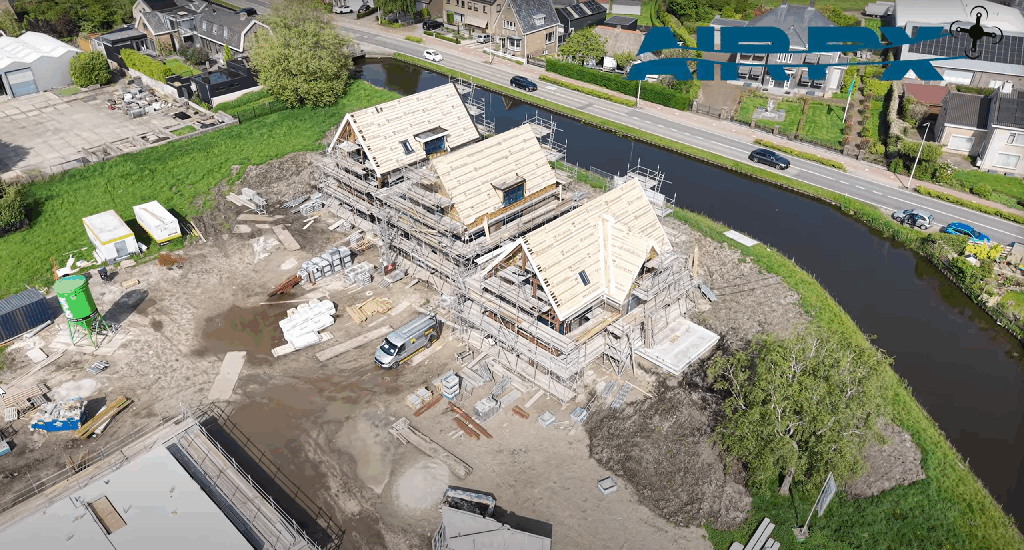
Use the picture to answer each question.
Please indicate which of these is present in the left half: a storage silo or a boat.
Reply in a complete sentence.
Looking in the left half, you will find a storage silo.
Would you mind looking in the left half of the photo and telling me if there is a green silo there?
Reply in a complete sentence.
Yes, a green silo is visible in the left half of the photo.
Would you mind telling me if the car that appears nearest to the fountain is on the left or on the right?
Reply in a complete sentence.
You can find the car that appears nearest to the fountain on the right side of the picture.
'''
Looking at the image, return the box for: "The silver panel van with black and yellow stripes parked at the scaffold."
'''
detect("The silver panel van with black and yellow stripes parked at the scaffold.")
[367,310,440,374]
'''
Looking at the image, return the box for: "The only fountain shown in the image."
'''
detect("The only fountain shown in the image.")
[755,101,786,120]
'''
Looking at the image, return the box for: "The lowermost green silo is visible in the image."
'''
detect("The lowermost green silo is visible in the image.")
[58,280,123,346]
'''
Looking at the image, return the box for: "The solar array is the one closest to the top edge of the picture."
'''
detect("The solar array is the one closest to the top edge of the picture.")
[914,29,1024,69]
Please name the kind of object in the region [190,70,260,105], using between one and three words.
building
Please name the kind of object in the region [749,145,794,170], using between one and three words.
car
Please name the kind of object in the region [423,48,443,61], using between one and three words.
vehicle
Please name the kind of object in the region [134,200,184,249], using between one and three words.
building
